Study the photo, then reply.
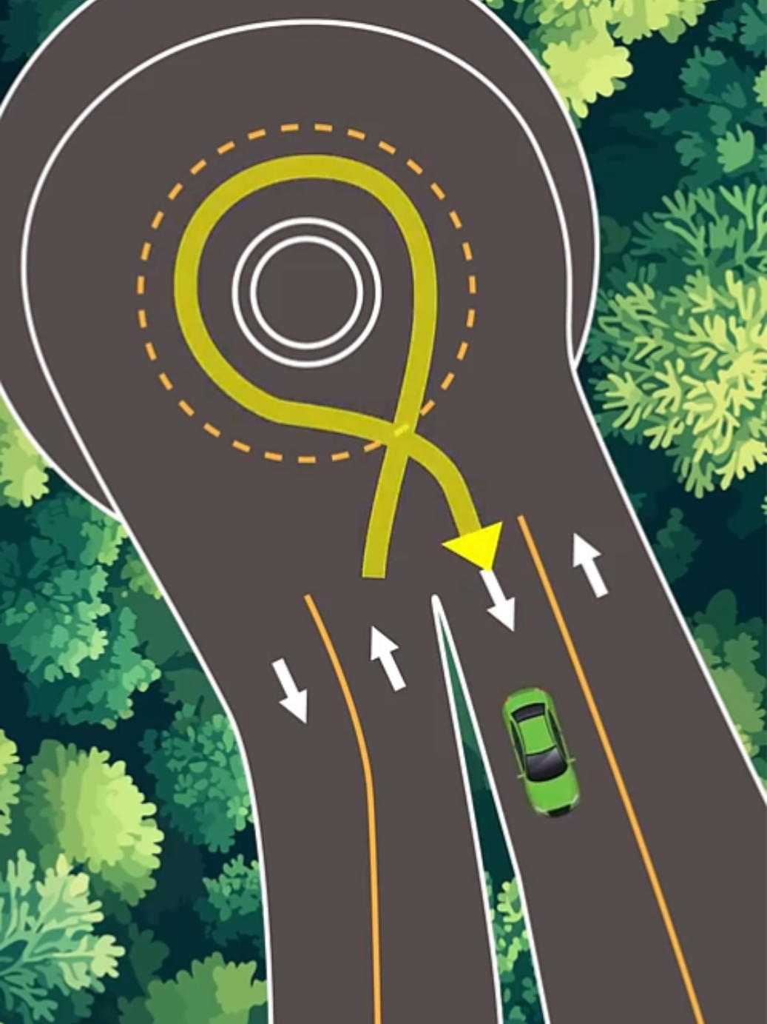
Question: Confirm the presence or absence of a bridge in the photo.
No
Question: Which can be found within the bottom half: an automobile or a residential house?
automobile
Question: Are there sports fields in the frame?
No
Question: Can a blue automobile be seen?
No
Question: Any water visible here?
No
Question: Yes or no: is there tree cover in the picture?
Yes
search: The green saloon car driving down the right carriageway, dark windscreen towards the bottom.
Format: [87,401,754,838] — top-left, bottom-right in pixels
[503,685,581,818]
